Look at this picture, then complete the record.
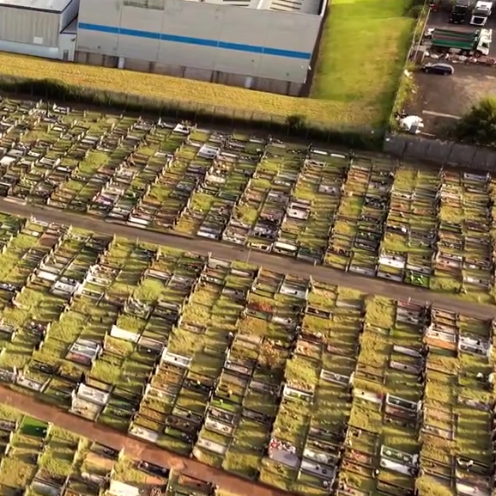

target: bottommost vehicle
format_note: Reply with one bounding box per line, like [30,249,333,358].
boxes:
[424,61,456,74]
